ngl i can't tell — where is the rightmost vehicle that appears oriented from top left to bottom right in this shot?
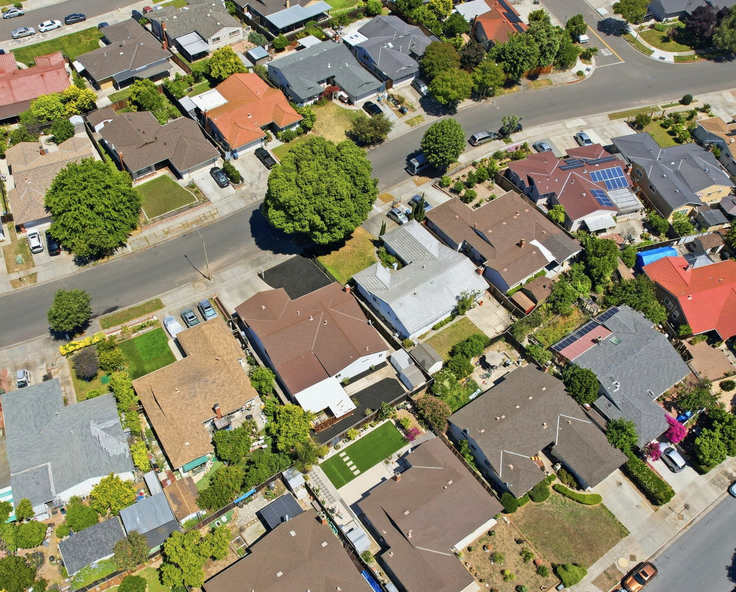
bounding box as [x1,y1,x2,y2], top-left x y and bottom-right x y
[656,439,693,474]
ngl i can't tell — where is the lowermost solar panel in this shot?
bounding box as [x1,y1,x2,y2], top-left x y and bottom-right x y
[554,307,618,352]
